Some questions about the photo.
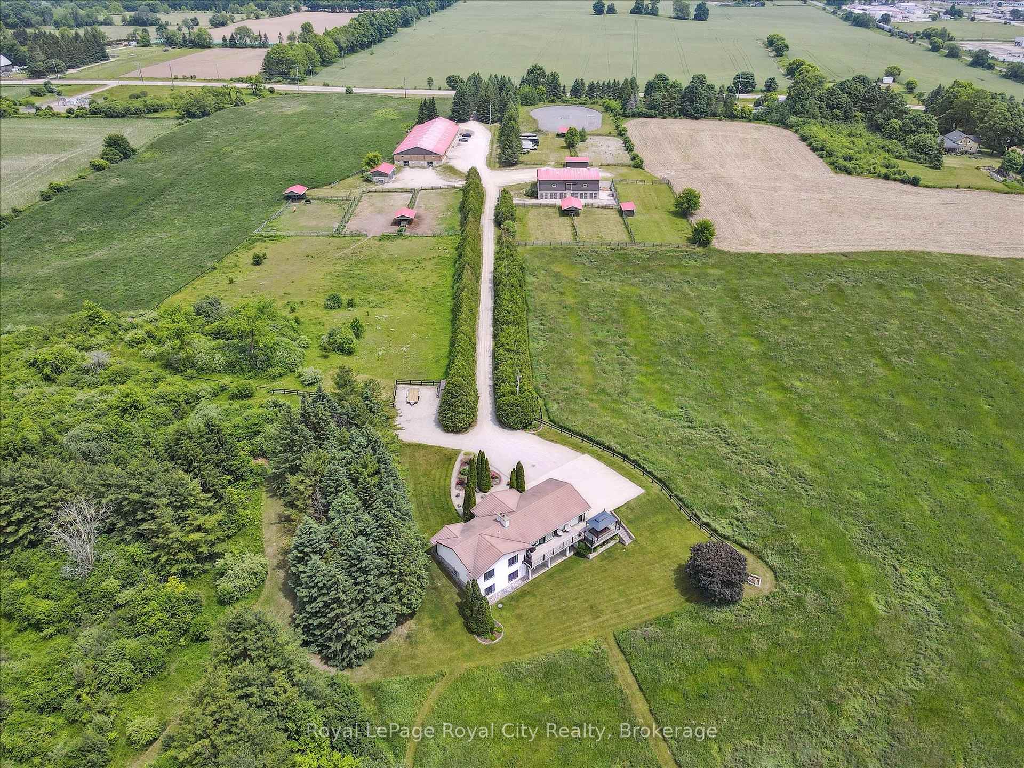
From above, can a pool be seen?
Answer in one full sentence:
No, I can't see a single pool in this photo.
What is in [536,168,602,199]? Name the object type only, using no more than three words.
building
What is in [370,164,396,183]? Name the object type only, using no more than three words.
shed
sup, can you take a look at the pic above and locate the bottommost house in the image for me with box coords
[429,478,634,602]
